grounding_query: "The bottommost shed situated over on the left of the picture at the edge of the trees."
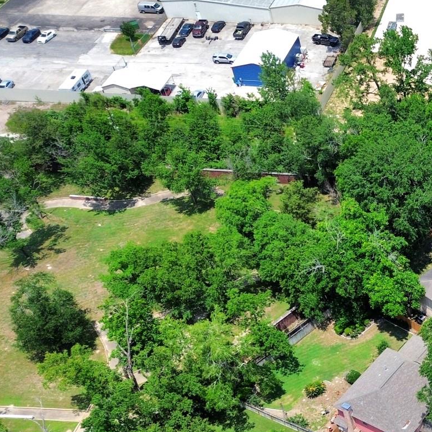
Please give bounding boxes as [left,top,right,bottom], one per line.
[102,66,178,98]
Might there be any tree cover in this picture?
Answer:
Yes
